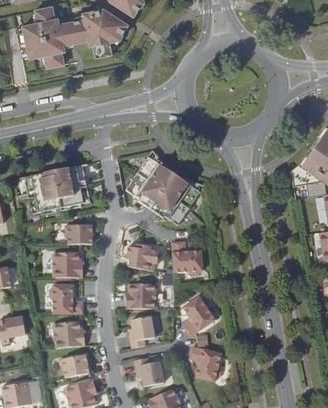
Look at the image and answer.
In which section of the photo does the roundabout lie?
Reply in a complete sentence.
The roundabout sits in the top right section of the image.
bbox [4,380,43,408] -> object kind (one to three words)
house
